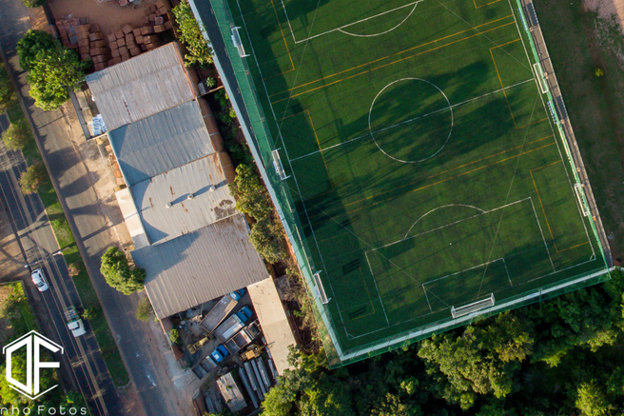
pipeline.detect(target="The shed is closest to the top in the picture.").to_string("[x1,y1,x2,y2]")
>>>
[85,43,203,132]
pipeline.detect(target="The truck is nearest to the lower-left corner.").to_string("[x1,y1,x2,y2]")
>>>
[65,303,88,339]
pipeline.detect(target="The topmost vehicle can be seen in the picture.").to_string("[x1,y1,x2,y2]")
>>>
[30,265,51,296]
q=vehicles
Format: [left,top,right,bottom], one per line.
[212,302,257,347]
[196,287,251,339]
[30,265,51,296]
[225,319,264,364]
[240,340,270,366]
[65,303,88,339]
[189,342,233,386]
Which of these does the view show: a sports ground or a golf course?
sports ground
